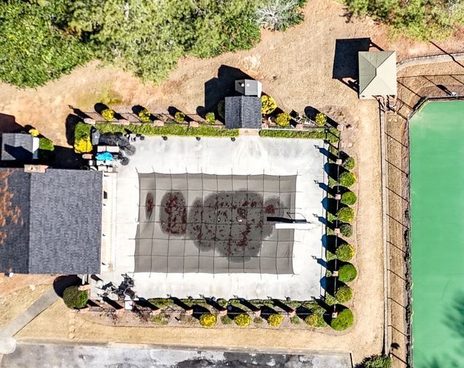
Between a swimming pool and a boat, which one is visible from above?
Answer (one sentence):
I can see a swimming pool in this picture.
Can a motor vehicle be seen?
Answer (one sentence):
No, I can't see a single motor vehicle in this photo.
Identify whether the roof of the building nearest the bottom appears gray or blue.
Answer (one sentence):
The color of the roof of the building nearest the bottom is gray.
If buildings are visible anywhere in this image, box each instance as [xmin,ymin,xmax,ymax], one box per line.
[359,51,397,100]
[221,96,261,130]
[0,162,123,281]
[1,133,43,161]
